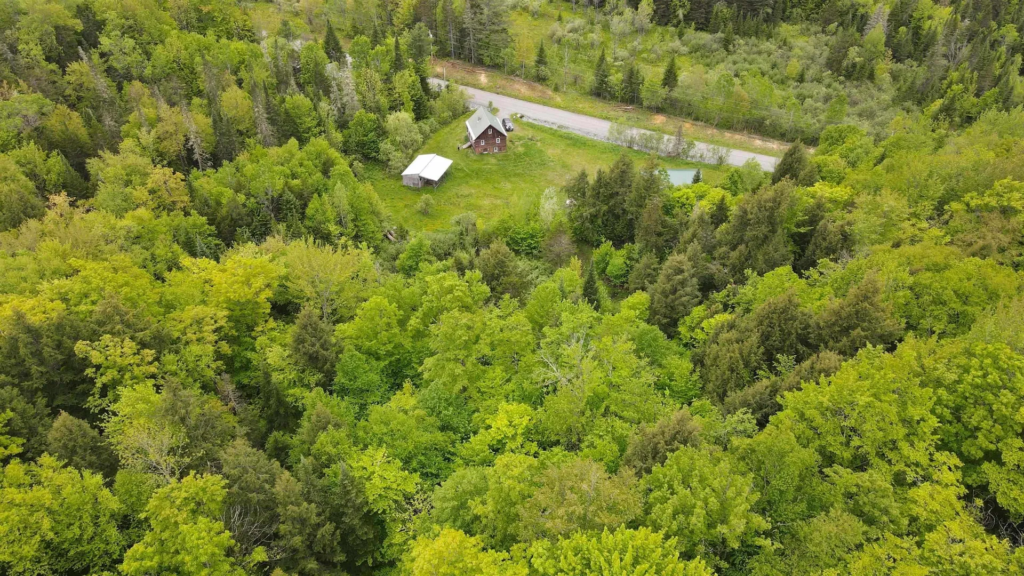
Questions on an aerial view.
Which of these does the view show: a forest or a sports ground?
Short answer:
forest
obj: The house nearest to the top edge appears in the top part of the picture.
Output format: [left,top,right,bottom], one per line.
[459,107,508,155]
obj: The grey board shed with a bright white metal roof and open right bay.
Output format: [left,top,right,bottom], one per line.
[400,154,453,191]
